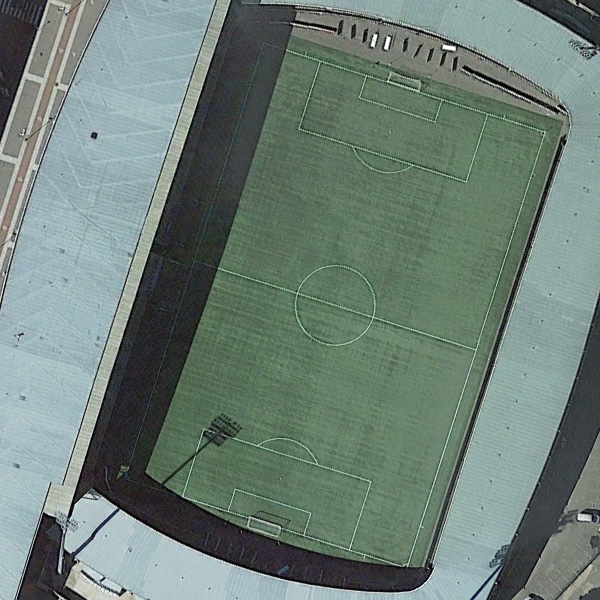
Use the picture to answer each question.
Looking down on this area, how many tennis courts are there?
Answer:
none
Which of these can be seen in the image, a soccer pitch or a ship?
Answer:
soccer pitch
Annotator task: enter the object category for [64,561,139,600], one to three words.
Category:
building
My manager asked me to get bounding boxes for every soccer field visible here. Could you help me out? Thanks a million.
[100,22,563,576]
